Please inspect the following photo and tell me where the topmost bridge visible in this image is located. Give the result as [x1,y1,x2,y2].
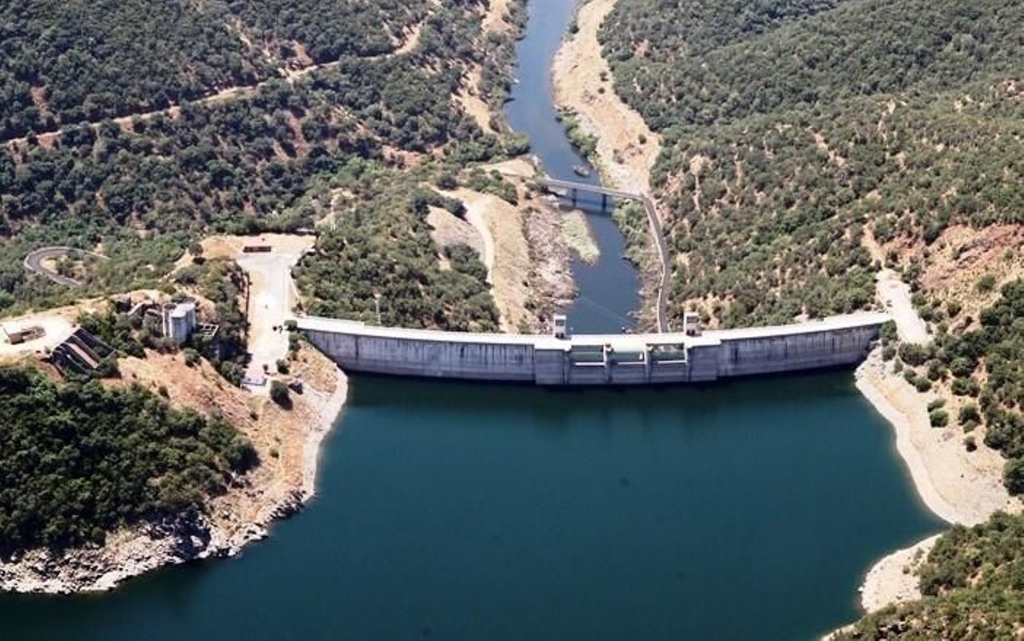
[535,176,648,209]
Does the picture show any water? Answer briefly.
Yes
